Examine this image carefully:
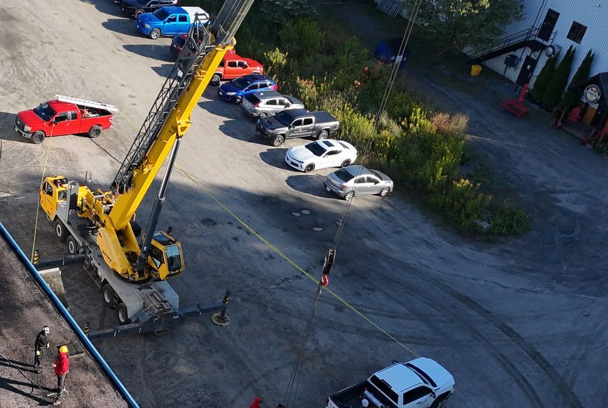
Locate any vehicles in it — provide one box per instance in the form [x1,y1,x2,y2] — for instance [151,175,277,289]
[249,103,341,146]
[280,136,362,172]
[238,82,307,115]
[117,0,181,14]
[8,93,119,143]
[320,354,459,408]
[319,163,397,199]
[212,70,276,104]
[131,2,212,39]
[212,47,266,84]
